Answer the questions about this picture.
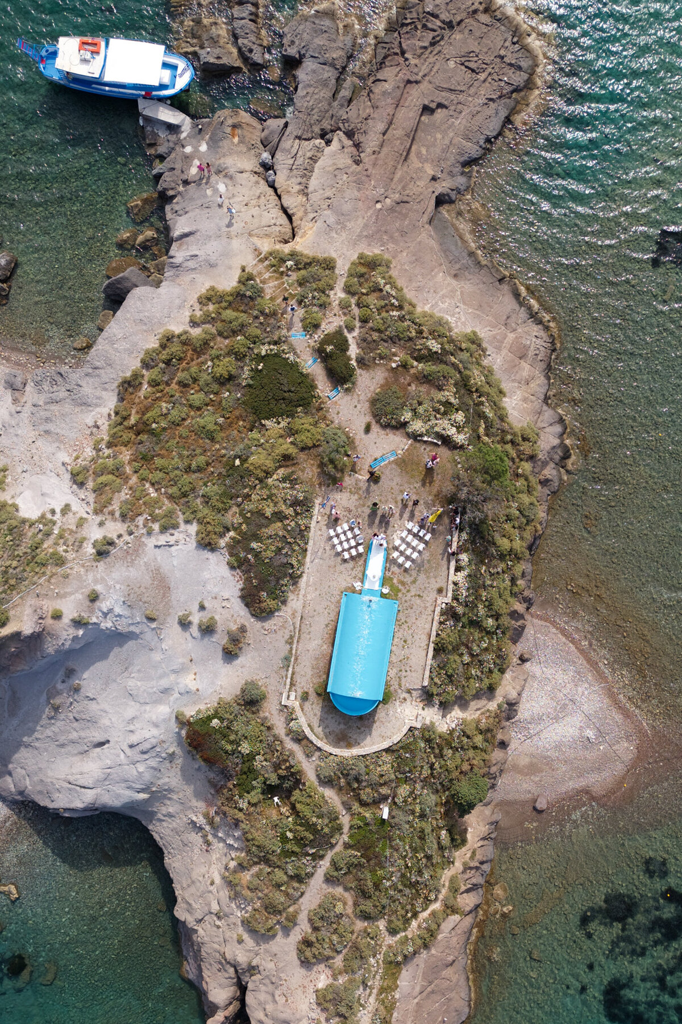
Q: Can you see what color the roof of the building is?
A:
blue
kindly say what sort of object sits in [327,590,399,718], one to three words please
building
